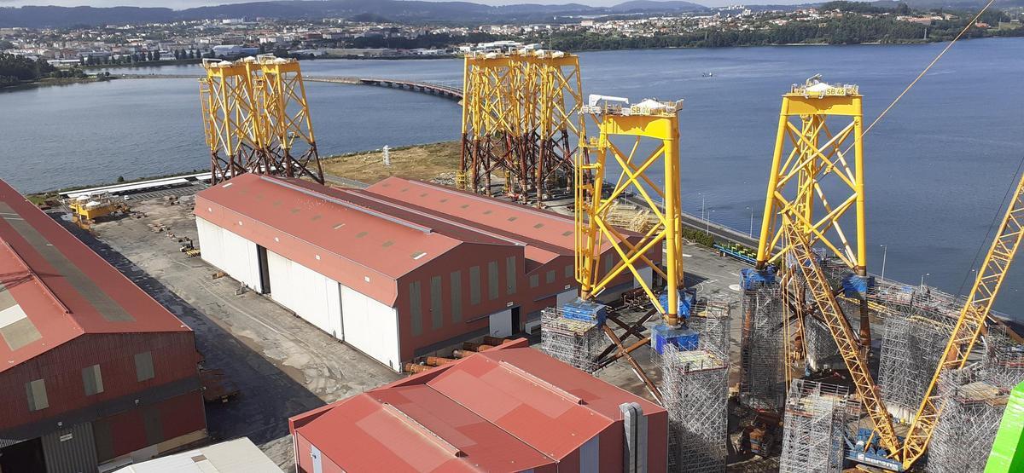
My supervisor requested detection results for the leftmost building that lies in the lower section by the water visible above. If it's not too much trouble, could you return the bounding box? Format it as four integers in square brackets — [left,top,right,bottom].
[0,180,207,473]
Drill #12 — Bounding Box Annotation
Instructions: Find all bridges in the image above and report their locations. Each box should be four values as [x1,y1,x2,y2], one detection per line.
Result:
[356,81,474,103]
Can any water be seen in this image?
Yes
